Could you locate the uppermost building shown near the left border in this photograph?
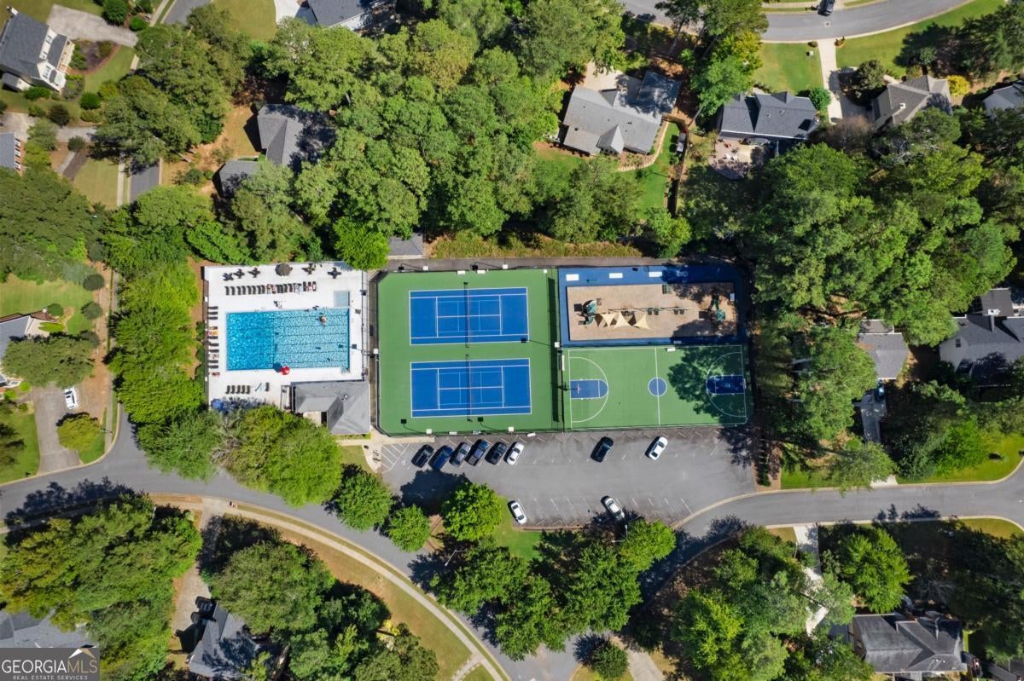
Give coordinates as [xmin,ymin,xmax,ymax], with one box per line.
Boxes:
[0,4,76,92]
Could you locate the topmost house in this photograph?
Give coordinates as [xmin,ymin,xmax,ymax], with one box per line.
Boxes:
[309,0,366,31]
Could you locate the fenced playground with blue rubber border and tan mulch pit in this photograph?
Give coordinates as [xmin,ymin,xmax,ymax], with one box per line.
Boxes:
[559,263,755,347]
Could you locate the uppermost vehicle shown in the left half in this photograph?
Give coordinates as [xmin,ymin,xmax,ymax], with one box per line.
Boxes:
[62,385,80,412]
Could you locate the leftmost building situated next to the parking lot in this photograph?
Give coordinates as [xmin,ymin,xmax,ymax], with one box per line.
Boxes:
[290,380,371,435]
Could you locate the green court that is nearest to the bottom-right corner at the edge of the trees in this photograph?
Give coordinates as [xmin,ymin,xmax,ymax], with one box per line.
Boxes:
[562,342,753,431]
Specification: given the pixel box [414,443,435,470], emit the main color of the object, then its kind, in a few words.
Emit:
black car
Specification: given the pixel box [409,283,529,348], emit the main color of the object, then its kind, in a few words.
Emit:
blue tennis court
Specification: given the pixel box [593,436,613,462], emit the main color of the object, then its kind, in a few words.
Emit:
black car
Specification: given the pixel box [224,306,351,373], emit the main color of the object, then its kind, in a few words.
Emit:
blue swimming pool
